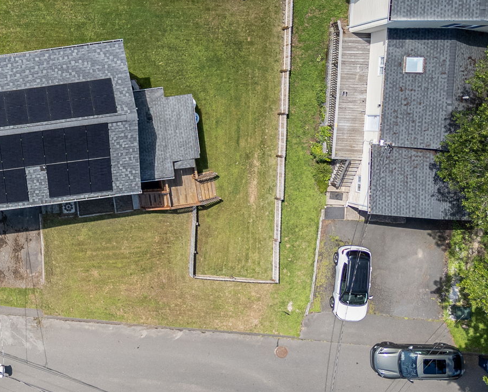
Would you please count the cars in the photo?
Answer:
2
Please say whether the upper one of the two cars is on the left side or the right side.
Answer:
right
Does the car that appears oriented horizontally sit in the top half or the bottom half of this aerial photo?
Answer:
bottom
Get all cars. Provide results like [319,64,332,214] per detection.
[329,243,375,322]
[368,339,464,386]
